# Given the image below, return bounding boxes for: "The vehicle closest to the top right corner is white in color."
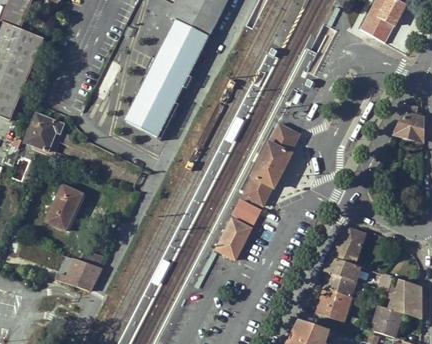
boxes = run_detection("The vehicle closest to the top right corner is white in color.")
[360,99,374,120]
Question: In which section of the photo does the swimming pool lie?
left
